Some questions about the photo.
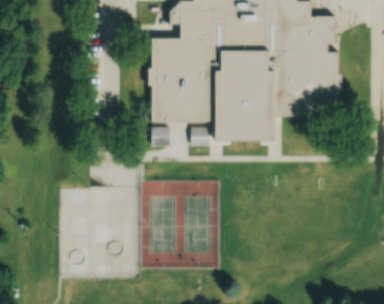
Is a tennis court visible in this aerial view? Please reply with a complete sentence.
Yes, looking at the shot, I can spot a tennis court.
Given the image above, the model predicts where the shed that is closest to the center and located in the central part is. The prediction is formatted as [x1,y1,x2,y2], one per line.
[192,128,210,147]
